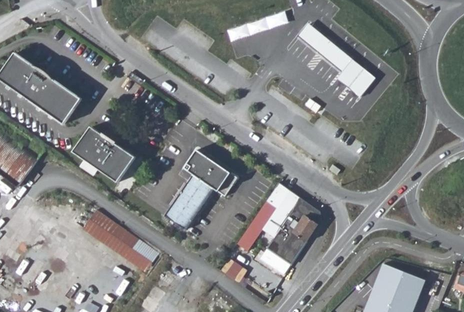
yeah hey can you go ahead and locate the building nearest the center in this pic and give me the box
[183,148,236,196]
